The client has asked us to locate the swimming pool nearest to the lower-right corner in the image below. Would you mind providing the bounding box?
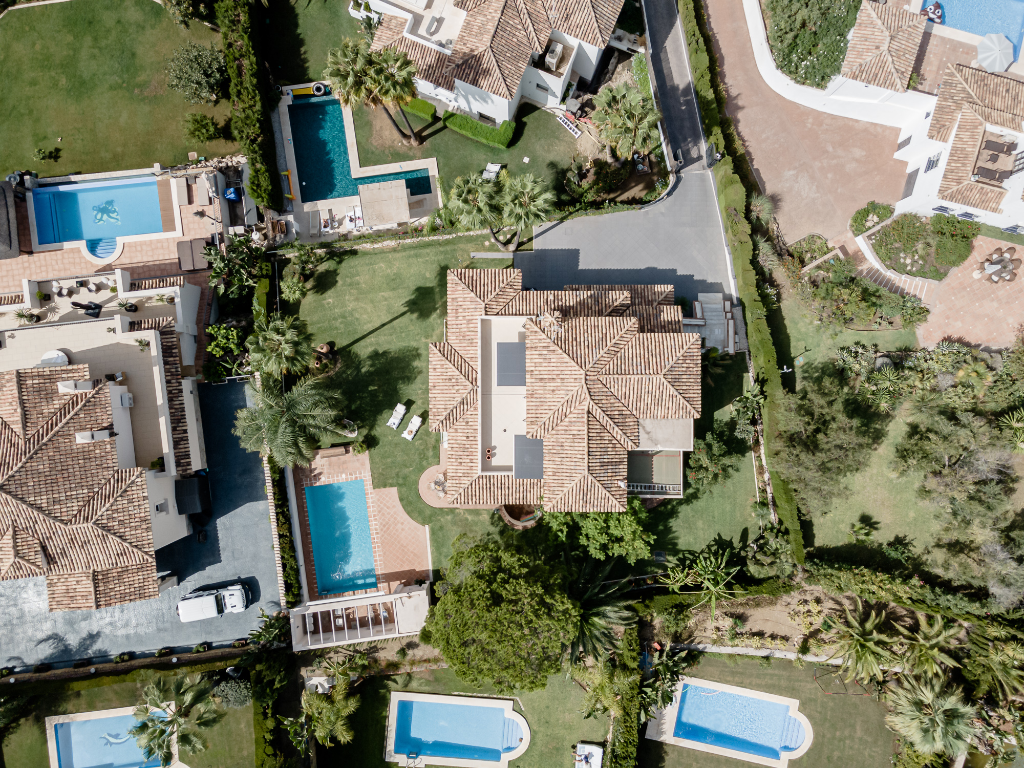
[646,675,813,768]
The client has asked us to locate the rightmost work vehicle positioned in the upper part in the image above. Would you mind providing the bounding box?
[562,93,593,122]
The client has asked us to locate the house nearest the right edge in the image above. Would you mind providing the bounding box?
[808,0,1024,246]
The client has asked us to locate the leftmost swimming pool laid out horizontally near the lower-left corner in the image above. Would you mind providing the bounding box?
[45,706,190,768]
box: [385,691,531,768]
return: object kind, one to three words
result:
swimming pool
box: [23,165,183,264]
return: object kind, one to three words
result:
swimming pool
